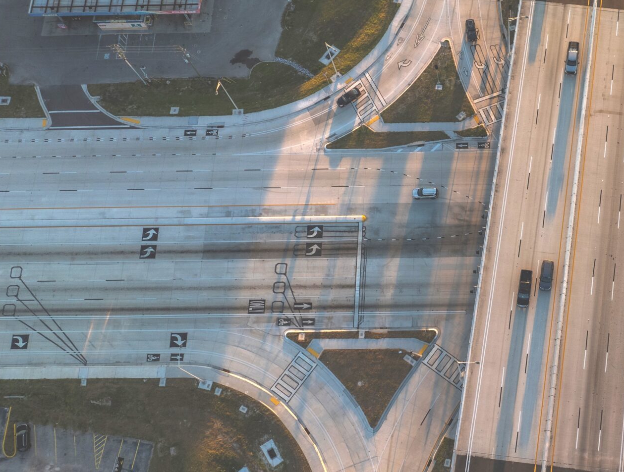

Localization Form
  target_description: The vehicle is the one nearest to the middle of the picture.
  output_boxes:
[413,187,439,200]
